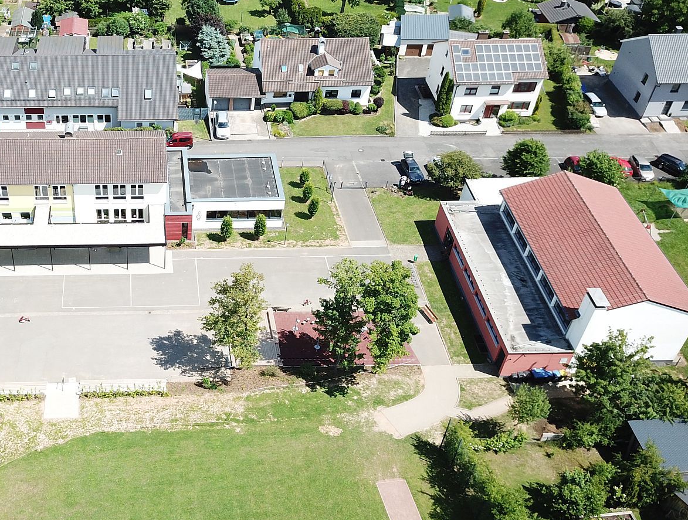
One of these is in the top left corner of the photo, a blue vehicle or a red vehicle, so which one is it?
red vehicle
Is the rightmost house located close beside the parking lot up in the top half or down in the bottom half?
top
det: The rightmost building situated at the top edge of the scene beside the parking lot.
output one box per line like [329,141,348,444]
[603,22,688,122]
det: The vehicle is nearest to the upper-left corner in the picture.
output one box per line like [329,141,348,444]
[165,129,199,148]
